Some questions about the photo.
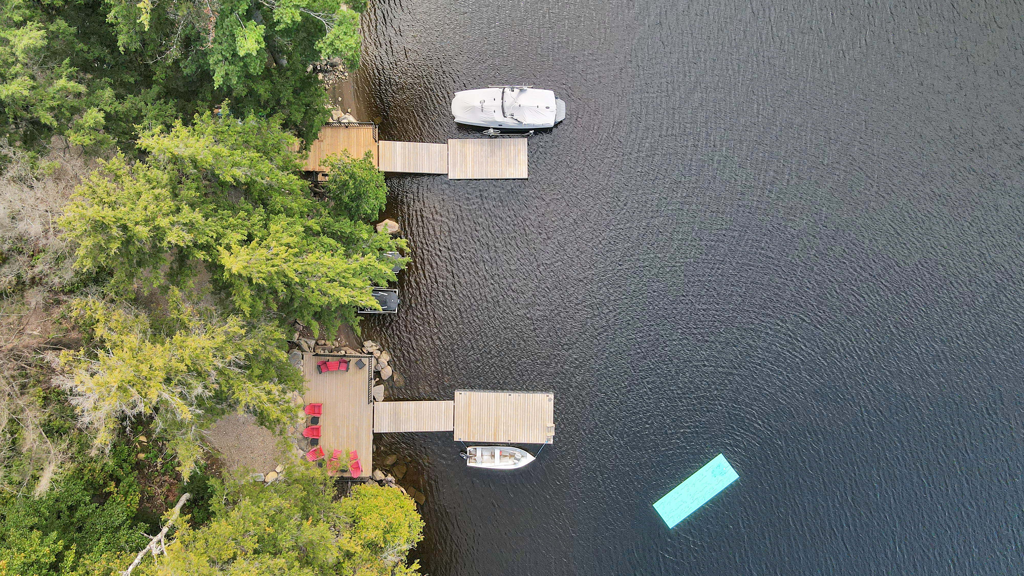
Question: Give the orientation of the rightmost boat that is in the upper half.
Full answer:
The rightmost boat that is in the upper half is oriented from left to right.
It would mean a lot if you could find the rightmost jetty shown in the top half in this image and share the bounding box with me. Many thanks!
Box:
[448,138,527,180]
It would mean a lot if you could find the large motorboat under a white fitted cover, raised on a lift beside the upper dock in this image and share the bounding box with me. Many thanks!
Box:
[451,83,565,129]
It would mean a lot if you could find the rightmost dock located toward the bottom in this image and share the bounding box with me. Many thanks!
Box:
[454,389,553,444]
